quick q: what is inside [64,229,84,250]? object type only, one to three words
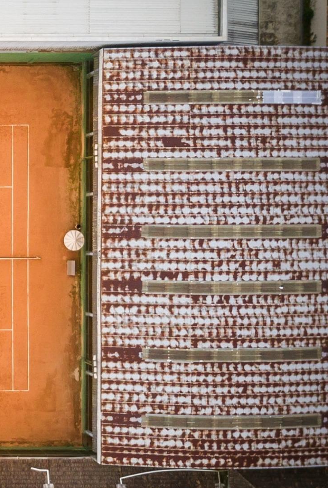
umbrella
